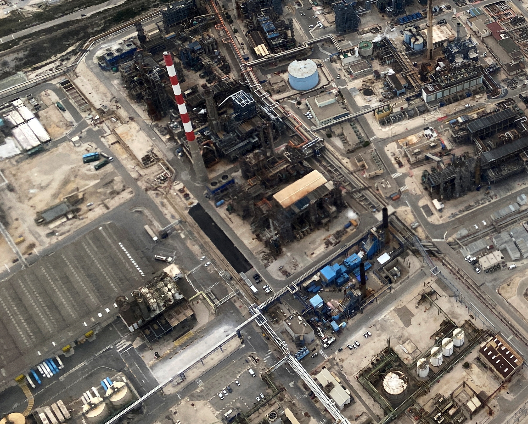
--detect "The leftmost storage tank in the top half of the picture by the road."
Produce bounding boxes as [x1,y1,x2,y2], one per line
[286,58,322,93]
